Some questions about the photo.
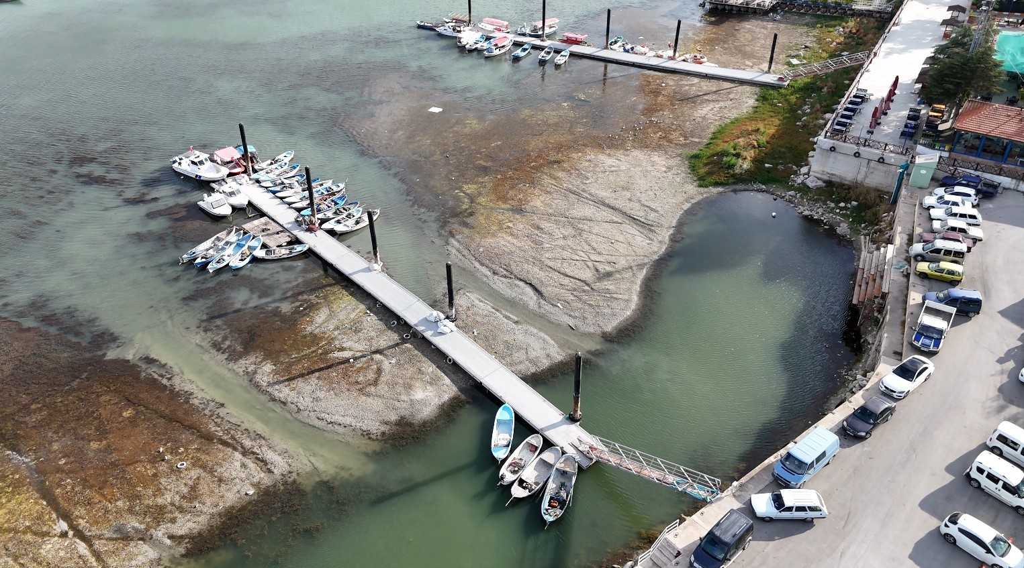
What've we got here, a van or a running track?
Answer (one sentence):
There is a van in the scene.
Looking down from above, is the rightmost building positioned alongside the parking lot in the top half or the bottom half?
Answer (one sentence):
It is in the top half that the rightmost building positioned alongside the parking lot appears.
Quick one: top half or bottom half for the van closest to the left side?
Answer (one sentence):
The bottom half of the photo is where the van closest to the left side is.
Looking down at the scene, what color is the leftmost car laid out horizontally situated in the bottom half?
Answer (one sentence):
The leftmost car laid out horizontally situated in the bottom half looks white in the image.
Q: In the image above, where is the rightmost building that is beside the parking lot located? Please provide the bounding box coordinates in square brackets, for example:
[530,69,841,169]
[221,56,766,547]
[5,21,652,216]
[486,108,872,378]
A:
[952,103,1024,166]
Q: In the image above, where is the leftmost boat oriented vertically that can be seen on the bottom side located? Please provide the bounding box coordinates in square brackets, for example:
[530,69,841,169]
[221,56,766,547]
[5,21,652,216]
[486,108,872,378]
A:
[487,402,519,470]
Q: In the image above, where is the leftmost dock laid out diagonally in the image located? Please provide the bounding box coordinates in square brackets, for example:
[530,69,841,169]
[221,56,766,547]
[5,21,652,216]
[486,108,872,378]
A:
[222,171,611,470]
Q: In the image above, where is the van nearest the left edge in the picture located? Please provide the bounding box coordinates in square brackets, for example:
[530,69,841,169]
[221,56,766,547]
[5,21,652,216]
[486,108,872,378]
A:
[691,512,756,568]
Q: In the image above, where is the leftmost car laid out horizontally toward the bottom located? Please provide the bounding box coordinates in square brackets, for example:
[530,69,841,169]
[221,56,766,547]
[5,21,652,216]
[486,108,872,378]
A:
[750,488,831,524]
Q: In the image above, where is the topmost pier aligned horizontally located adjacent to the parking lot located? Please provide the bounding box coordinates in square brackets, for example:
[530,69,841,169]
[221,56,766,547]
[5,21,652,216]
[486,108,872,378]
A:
[466,28,787,85]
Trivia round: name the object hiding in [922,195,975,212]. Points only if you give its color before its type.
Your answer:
white car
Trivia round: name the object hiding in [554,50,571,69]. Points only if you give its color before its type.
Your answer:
white boat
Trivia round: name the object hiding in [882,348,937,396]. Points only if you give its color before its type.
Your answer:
white car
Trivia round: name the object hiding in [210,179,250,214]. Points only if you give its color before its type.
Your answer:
white boat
